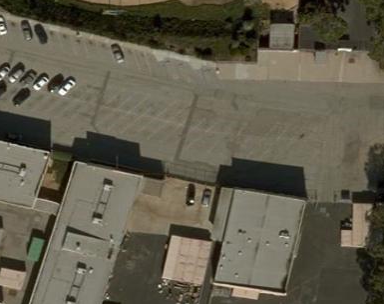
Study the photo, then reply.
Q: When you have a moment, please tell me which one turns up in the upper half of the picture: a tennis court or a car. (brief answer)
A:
car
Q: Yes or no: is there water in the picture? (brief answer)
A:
No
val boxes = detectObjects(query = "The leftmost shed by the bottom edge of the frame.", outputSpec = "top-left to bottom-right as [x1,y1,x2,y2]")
[0,268,27,289]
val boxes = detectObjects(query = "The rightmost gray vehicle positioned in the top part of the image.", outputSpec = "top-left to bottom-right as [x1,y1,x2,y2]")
[110,43,125,63]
